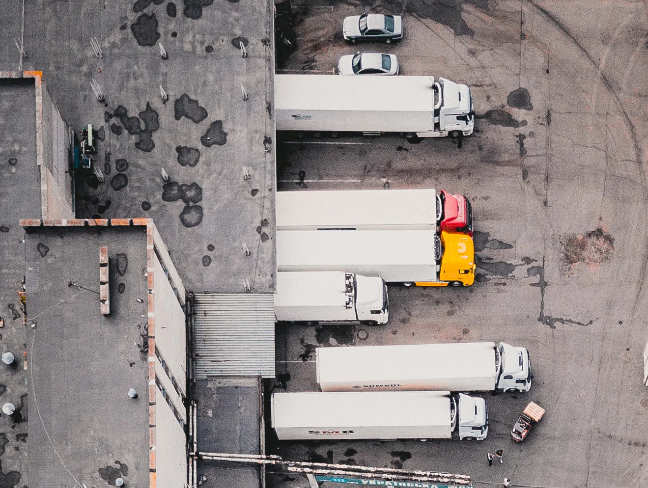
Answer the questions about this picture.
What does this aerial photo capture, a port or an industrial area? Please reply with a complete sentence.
The picture captures an industrial area.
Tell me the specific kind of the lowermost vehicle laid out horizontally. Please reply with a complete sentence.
In the photo, the lowermost vehicle laid out horizontally shows up as a truck.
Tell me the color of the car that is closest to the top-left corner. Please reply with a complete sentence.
The car that is closest to the top-left corner is black.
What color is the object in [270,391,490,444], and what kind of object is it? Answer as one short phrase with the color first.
white truck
